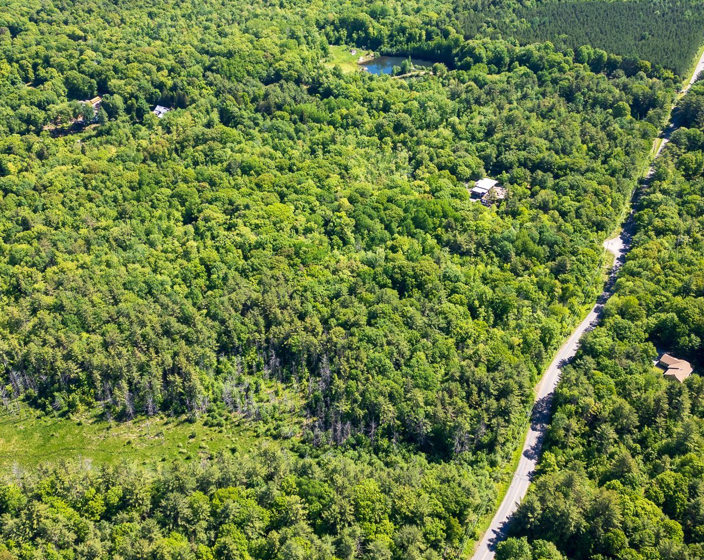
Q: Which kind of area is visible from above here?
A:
forest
